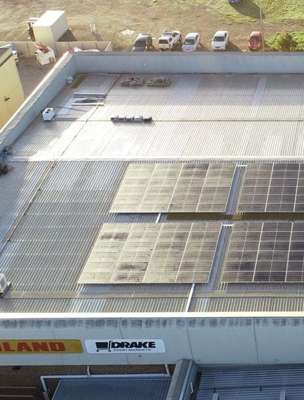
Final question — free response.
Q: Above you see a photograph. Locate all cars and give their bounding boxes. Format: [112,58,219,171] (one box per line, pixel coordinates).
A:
[180,32,202,50]
[248,31,265,49]
[133,33,156,51]
[210,32,231,49]
[153,30,179,50]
